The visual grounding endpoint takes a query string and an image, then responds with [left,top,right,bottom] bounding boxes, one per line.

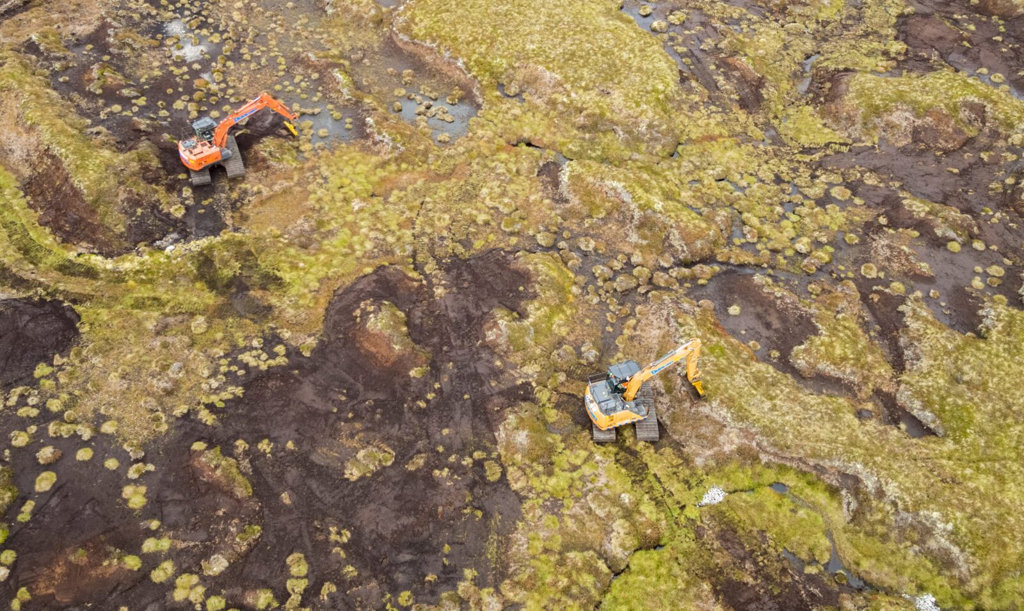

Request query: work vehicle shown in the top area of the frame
[179,81,301,186]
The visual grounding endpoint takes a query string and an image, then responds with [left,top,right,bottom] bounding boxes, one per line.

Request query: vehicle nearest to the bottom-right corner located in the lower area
[588,335,708,443]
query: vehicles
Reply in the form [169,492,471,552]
[588,335,708,443]
[179,81,301,186]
